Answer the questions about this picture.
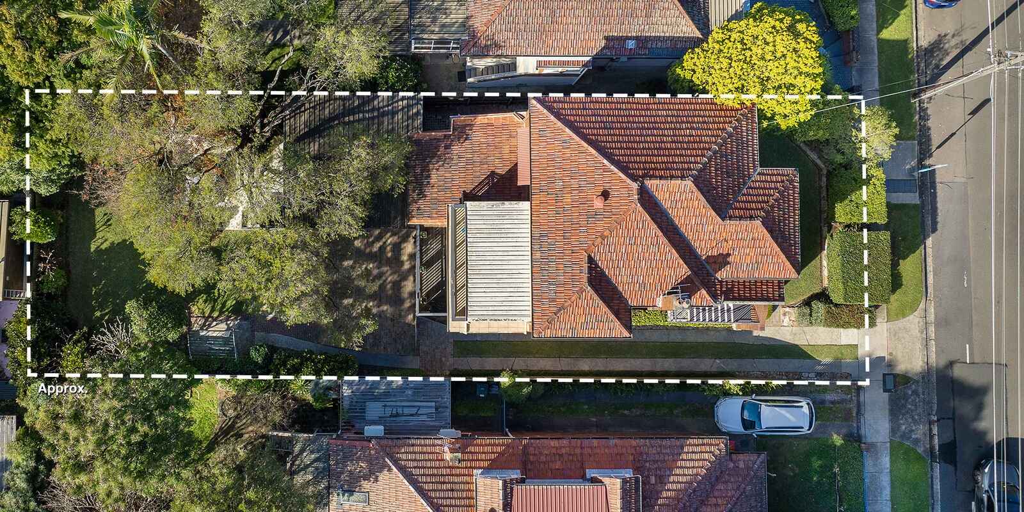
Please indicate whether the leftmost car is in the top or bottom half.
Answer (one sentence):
You can find the leftmost car in the bottom half.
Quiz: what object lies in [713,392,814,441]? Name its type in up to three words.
car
